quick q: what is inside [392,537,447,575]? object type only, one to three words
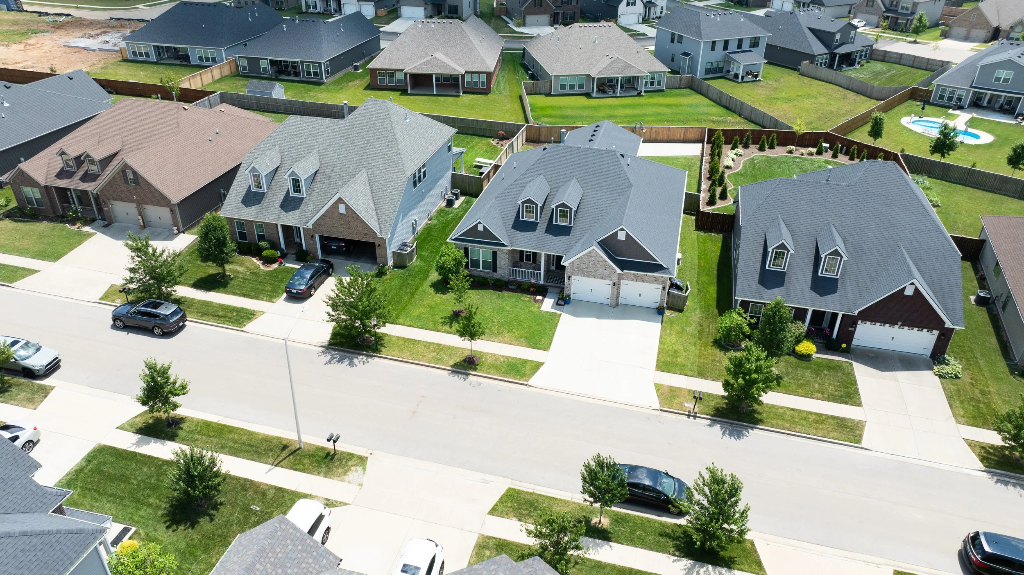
car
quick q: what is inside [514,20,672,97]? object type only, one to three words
house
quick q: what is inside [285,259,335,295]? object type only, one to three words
car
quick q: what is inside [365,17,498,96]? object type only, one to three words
house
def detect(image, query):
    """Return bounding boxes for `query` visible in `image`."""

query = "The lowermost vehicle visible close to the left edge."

[0,420,40,452]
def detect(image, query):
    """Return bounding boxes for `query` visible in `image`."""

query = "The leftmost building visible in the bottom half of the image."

[0,434,117,575]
